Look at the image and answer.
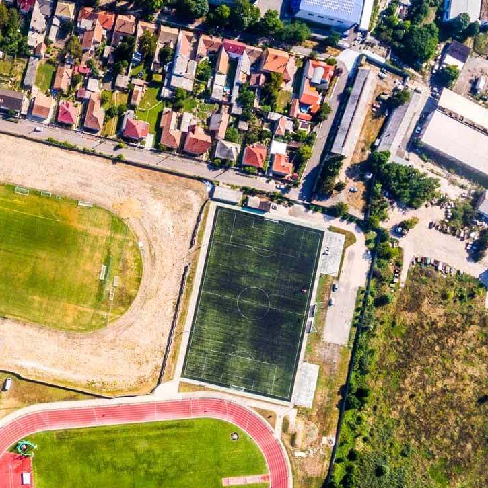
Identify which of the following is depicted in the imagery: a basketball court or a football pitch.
football pitch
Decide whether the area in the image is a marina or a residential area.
residential area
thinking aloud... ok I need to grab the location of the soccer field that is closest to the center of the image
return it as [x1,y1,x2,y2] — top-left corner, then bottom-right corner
[181,205,324,402]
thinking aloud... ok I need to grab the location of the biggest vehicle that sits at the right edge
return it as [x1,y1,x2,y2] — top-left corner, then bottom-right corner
[472,76,485,93]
